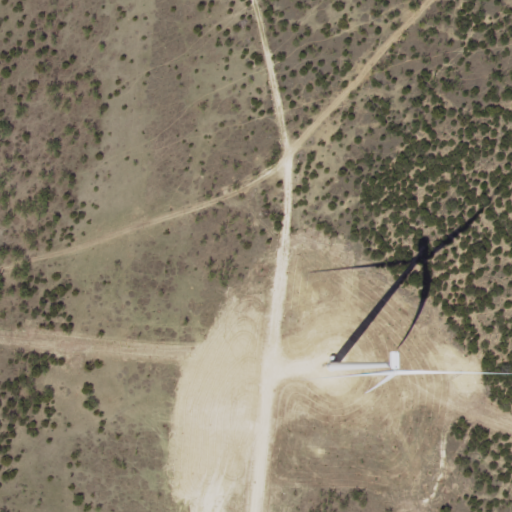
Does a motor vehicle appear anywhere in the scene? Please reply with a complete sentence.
No, there isn't any motor vehicle down there.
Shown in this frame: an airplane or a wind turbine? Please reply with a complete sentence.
This aerial view contains a wind turbine.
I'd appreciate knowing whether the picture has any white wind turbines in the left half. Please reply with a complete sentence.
No, in the left half there is no white wind turbine.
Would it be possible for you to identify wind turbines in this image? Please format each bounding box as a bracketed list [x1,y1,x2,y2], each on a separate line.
[296,351,510,392]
